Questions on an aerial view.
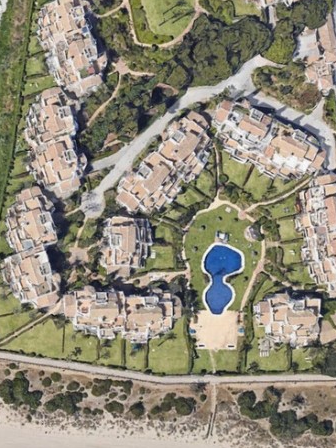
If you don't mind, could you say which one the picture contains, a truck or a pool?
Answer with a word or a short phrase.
pool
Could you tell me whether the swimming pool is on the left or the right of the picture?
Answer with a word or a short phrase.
right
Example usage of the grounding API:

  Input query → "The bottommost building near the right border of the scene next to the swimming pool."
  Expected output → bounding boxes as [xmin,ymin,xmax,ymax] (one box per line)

[253,294,325,343]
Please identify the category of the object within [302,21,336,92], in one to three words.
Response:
house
